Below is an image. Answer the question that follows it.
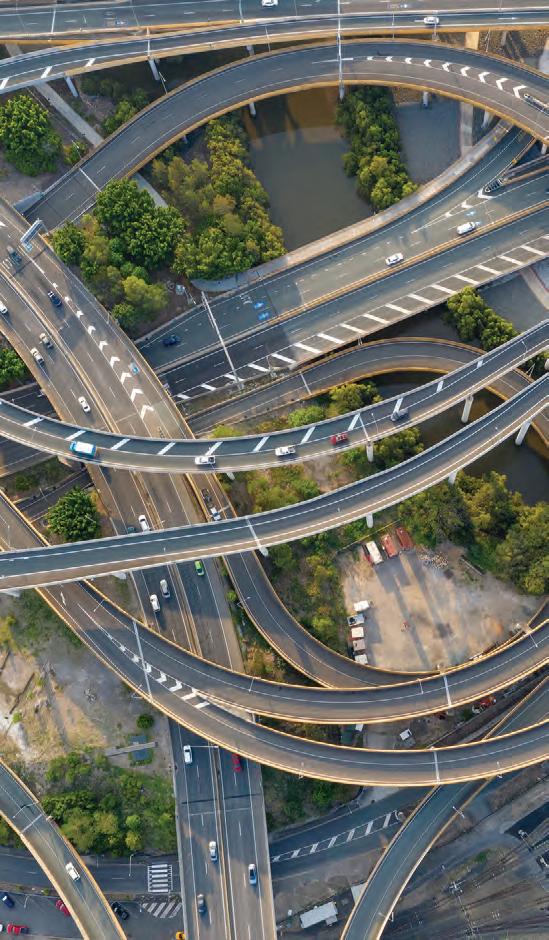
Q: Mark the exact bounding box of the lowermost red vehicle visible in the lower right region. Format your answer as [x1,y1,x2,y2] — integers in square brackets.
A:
[477,694,495,709]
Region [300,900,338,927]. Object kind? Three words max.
shed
